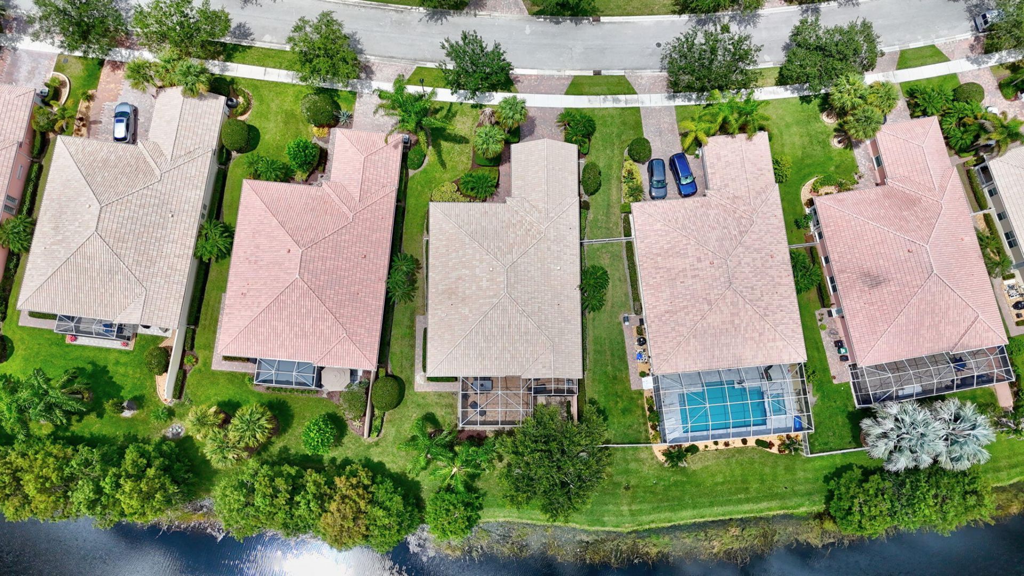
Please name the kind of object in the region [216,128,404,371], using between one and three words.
house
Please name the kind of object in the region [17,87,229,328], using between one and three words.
house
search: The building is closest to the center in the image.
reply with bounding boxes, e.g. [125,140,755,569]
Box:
[424,137,585,380]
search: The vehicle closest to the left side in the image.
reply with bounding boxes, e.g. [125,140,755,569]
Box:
[114,105,137,143]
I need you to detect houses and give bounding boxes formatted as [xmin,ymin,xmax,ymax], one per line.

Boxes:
[799,116,1010,368]
[629,130,811,377]
[17,87,229,328]
[0,84,46,266]
[216,128,404,371]
[973,152,1024,301]
[424,137,585,380]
